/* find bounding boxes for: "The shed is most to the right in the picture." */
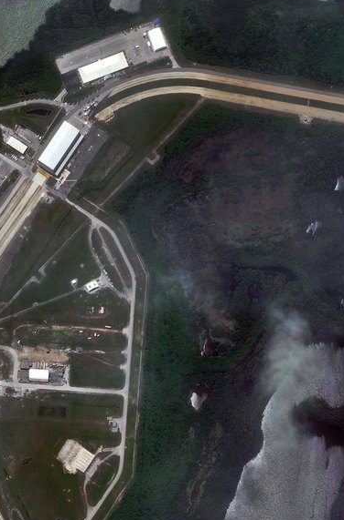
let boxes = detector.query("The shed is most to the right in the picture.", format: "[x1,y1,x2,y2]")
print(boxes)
[147,27,167,51]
